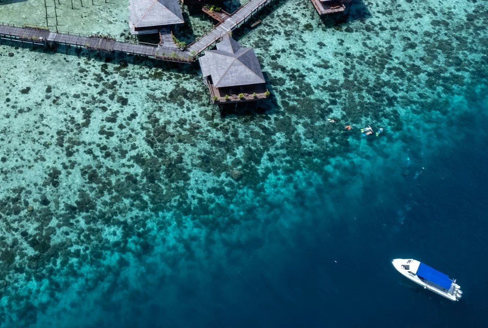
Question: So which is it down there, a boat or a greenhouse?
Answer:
boat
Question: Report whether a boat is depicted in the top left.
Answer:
No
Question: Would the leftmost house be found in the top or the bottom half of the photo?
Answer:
top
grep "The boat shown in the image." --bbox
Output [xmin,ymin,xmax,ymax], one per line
[391,258,465,302]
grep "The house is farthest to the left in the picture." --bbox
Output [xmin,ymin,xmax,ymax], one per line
[125,0,183,40]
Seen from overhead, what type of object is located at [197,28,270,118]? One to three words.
house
